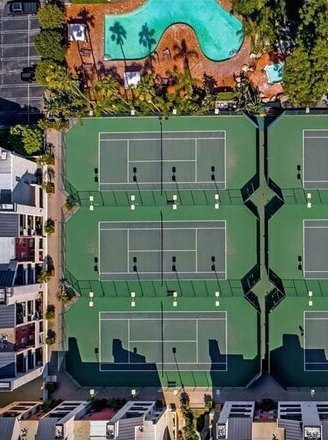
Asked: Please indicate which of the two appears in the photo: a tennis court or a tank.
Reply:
tennis court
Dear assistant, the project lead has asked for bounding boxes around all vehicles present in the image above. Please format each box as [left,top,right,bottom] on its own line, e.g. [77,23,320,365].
[6,1,37,16]
[18,69,42,81]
